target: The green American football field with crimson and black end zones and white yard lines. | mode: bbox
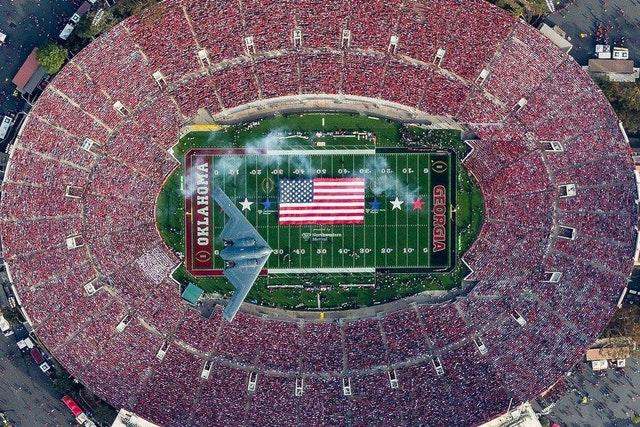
[185,134,458,288]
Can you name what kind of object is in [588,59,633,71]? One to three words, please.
building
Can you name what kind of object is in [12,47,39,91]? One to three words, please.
building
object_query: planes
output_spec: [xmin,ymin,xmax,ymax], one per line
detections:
[214,186,272,323]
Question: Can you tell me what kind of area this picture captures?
sports ground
